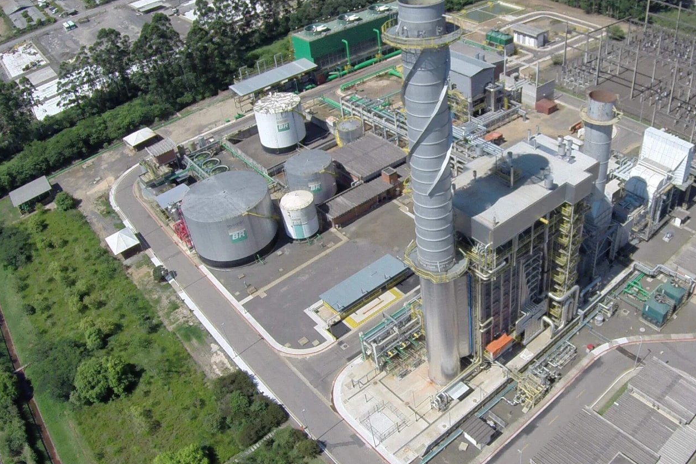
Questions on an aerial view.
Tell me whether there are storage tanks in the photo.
Yes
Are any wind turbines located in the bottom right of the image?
No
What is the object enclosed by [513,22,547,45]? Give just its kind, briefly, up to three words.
building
